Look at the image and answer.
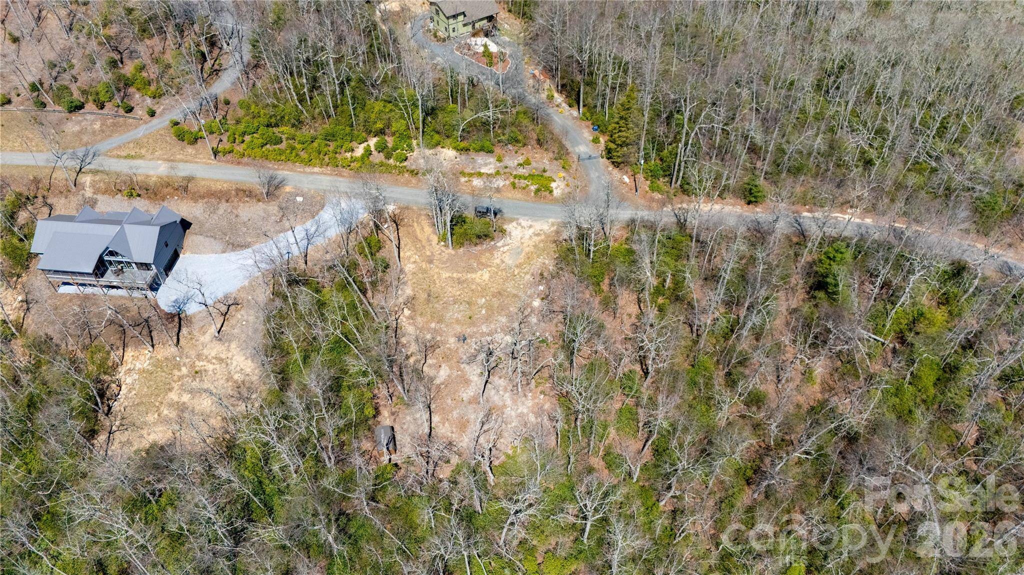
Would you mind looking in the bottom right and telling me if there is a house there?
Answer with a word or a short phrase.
No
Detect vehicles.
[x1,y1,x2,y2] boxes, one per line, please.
[474,203,498,217]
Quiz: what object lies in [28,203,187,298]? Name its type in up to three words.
house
